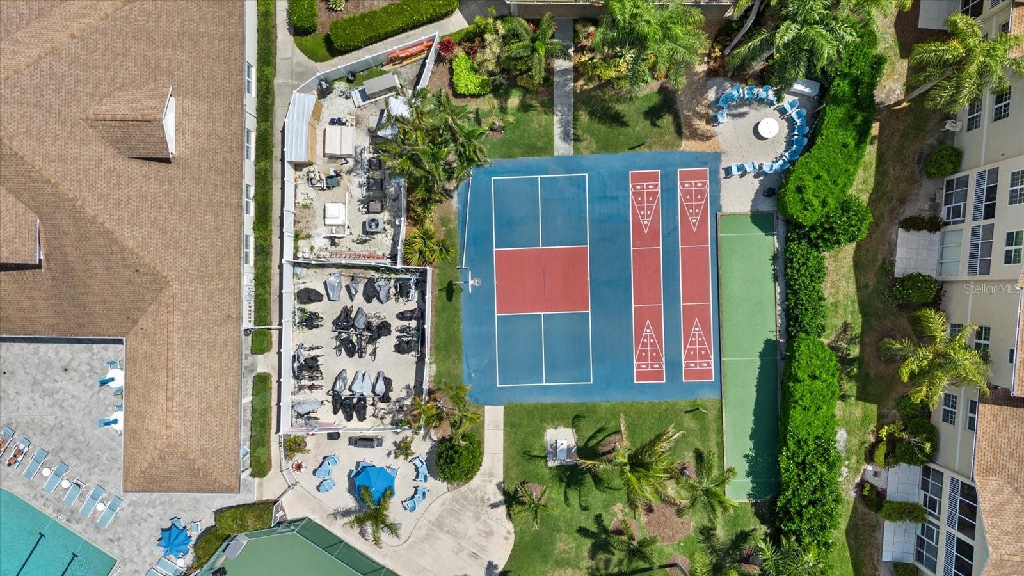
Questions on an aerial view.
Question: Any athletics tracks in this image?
No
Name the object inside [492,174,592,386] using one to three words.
sports court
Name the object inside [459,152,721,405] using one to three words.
sports court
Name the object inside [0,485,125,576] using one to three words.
swimming pool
